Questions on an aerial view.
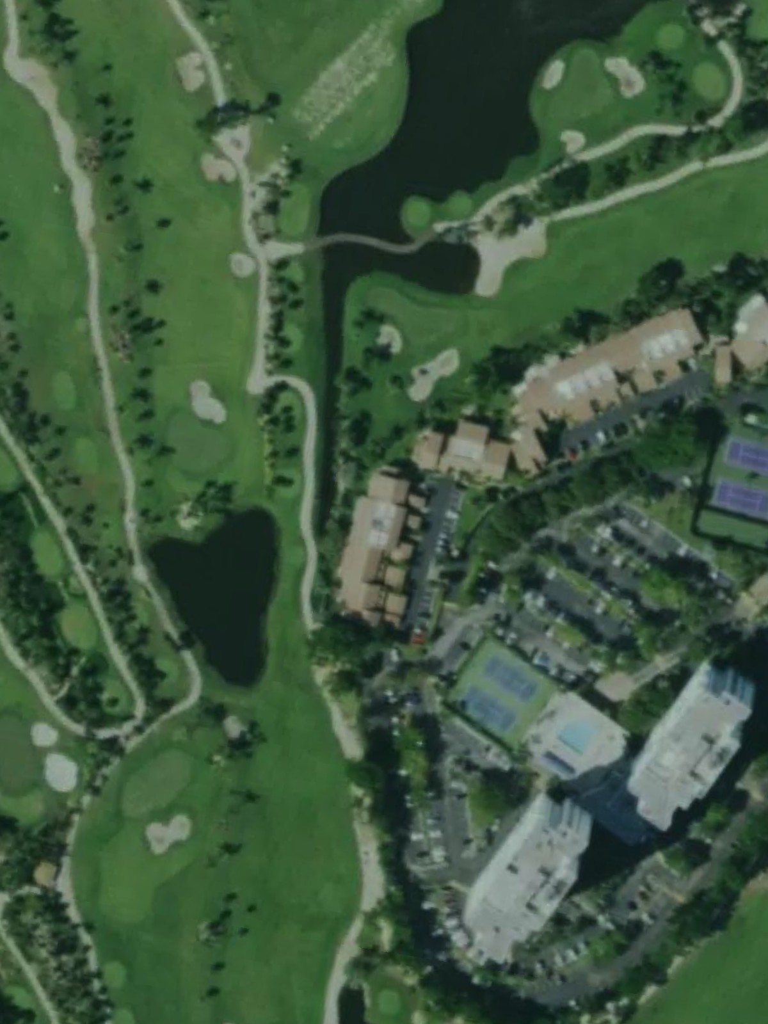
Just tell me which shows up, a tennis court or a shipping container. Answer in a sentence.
This aerial view contains a tennis court.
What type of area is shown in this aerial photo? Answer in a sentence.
This looks like a golf course.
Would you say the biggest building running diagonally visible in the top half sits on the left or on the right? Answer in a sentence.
The biggest building running diagonally visible in the top half sits on the right side.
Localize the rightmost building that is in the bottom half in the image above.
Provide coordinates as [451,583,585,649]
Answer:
[628,661,751,831]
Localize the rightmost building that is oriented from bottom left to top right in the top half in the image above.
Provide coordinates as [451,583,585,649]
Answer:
[510,306,703,475]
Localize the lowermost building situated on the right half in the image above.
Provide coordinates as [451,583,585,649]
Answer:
[467,796,590,967]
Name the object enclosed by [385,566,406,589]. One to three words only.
building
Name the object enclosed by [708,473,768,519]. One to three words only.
tennis court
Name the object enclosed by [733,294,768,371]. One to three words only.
building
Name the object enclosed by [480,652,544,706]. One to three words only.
tennis court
